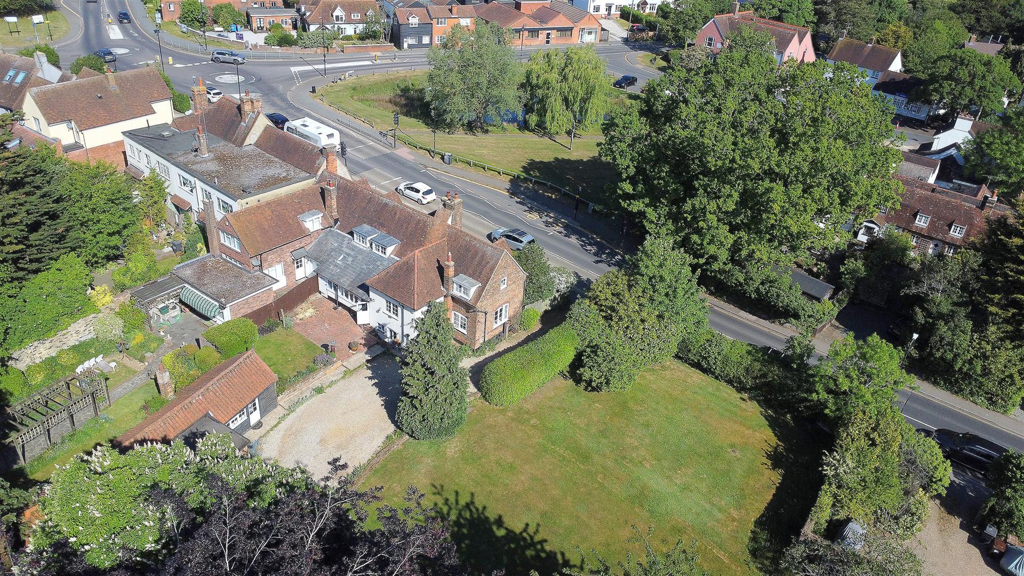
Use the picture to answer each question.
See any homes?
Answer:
Yes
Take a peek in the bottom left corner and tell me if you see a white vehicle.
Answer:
No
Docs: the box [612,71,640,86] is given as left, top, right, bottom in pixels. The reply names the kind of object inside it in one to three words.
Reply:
car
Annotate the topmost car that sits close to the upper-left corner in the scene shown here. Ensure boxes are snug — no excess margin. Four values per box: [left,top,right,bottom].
[116,7,131,21]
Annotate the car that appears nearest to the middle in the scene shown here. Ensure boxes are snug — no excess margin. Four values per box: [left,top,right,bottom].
[489,224,540,252]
